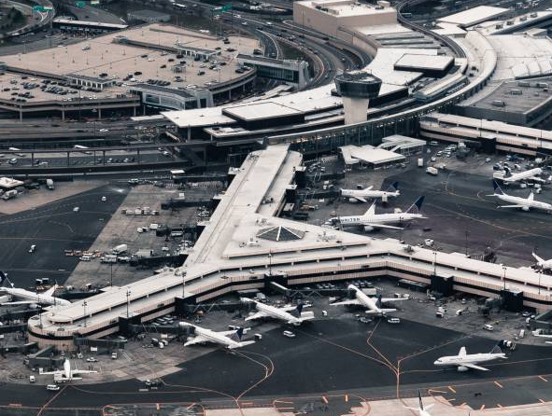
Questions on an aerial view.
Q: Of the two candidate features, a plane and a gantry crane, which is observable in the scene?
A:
plane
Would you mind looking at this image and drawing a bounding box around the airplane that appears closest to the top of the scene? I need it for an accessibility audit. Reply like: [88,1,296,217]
[491,167,545,183]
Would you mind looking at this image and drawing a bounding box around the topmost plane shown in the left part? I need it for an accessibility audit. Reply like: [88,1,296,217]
[0,271,56,309]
